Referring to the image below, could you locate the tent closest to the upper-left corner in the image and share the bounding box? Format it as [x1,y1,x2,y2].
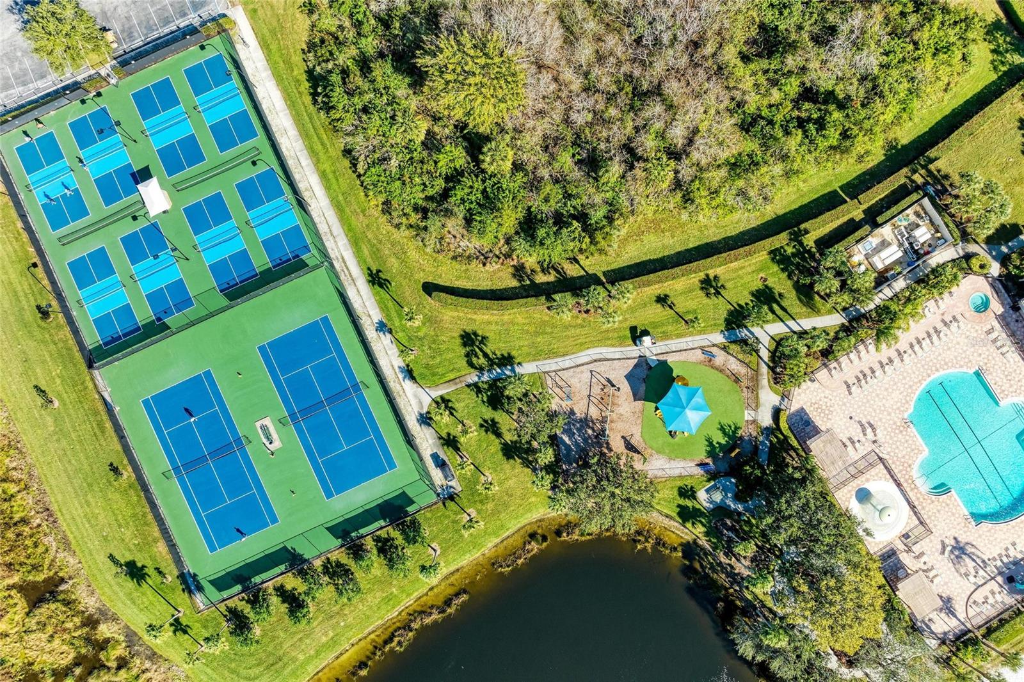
[137,177,174,219]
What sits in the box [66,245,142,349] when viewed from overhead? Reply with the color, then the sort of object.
blue sports court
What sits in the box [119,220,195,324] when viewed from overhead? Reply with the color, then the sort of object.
blue sports court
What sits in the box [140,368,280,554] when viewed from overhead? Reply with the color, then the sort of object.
blue tennis court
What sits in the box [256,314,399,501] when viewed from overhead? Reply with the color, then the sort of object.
blue tennis court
